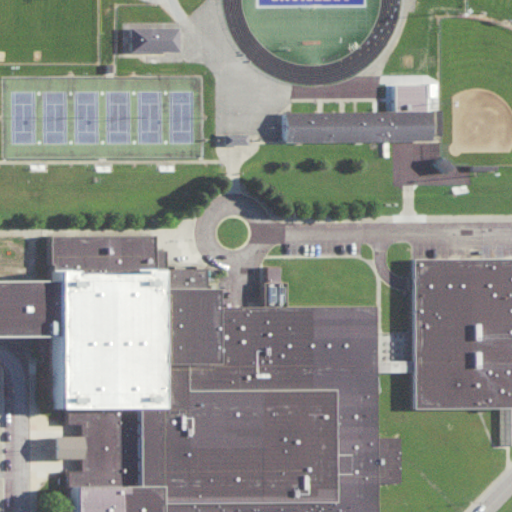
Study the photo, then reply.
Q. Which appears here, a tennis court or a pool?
tennis court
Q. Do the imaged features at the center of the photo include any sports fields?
No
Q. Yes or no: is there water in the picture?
No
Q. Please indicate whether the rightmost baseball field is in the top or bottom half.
top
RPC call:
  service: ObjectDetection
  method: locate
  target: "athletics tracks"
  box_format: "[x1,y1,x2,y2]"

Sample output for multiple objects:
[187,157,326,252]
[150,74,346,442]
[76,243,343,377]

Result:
[221,0,402,86]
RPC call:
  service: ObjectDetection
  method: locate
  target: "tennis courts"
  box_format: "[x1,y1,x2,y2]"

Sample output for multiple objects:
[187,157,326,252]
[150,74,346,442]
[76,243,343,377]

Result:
[10,92,38,144]
[72,92,101,144]
[167,92,195,144]
[136,92,164,144]
[41,92,70,144]
[104,92,132,144]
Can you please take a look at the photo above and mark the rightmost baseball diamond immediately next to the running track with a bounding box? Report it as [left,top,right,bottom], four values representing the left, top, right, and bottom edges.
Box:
[439,18,512,164]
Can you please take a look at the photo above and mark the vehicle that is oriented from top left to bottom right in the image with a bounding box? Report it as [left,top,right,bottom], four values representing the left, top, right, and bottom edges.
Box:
[212,257,228,270]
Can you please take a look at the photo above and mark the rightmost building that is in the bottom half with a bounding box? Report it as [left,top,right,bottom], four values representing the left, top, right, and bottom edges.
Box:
[412,260,512,410]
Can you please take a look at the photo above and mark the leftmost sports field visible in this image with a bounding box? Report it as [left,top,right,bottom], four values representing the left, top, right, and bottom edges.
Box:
[0,0,98,63]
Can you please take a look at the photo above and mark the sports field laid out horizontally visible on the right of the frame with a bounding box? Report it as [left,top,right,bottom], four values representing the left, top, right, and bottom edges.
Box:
[242,0,380,66]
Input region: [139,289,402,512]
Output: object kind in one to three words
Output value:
building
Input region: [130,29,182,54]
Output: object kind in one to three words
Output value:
building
